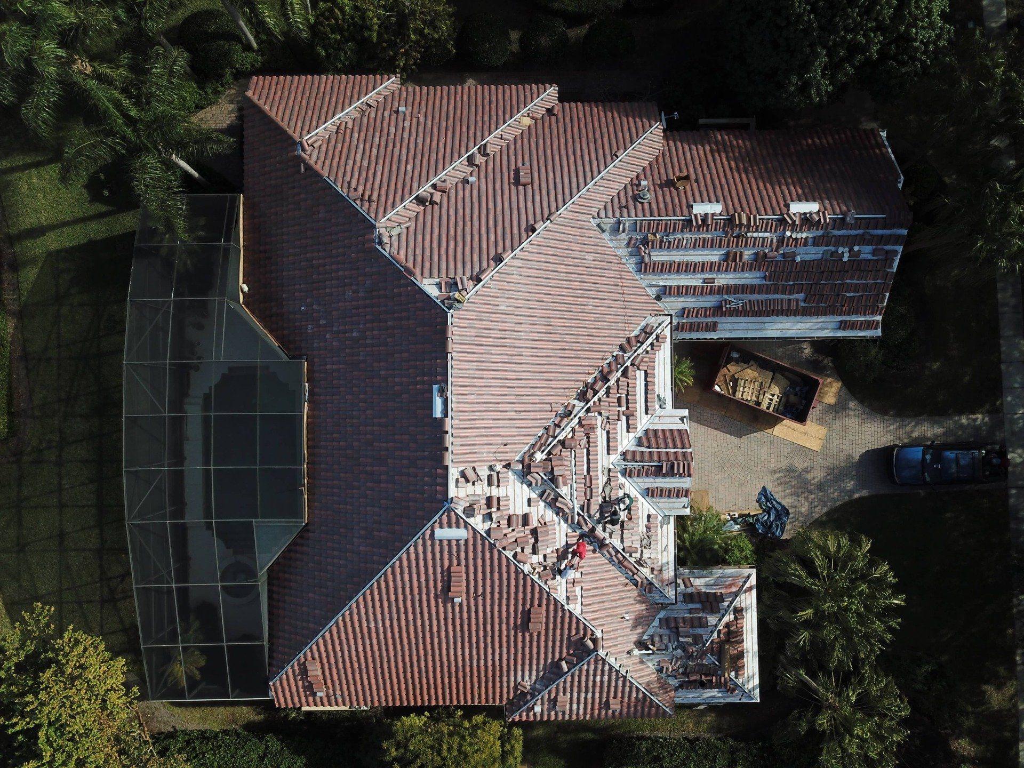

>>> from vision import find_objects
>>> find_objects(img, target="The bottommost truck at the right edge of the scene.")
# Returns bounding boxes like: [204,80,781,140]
[884,439,1010,490]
